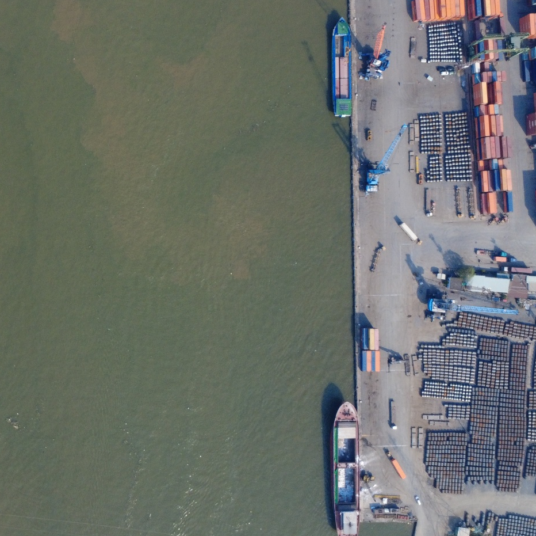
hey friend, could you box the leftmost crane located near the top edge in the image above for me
[353,22,392,80]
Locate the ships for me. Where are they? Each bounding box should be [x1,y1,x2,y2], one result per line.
[331,17,354,118]
[333,400,361,536]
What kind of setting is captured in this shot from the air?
port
